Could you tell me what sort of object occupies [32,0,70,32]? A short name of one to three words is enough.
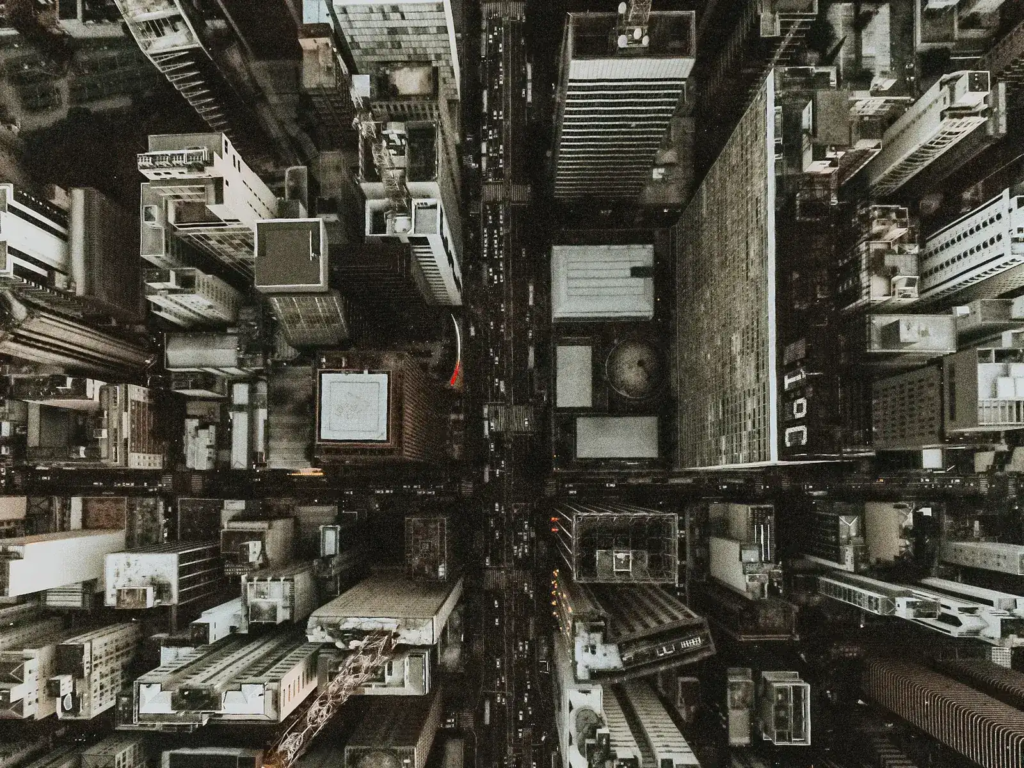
house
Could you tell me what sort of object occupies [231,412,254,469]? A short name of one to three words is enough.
building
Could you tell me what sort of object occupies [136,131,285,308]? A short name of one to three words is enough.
building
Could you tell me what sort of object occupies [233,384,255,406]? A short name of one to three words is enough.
shed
